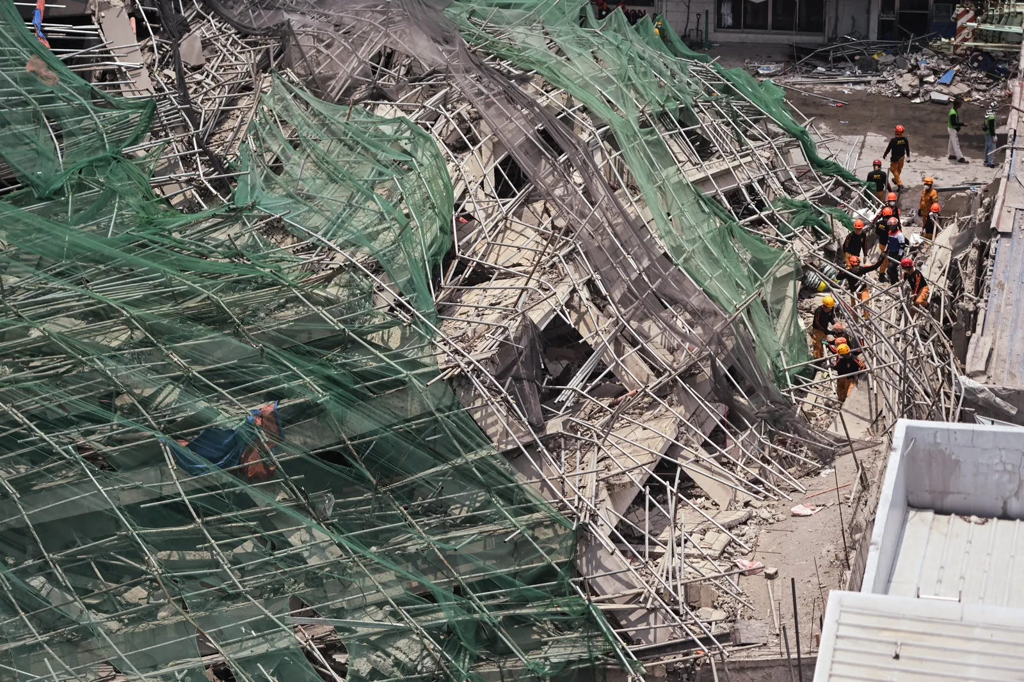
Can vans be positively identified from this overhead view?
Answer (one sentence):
No, the scene contains no van.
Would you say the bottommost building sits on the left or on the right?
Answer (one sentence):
The bottommost building is on the right side of the image.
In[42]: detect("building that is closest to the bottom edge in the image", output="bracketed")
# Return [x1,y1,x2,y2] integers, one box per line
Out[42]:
[814,419,1024,682]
